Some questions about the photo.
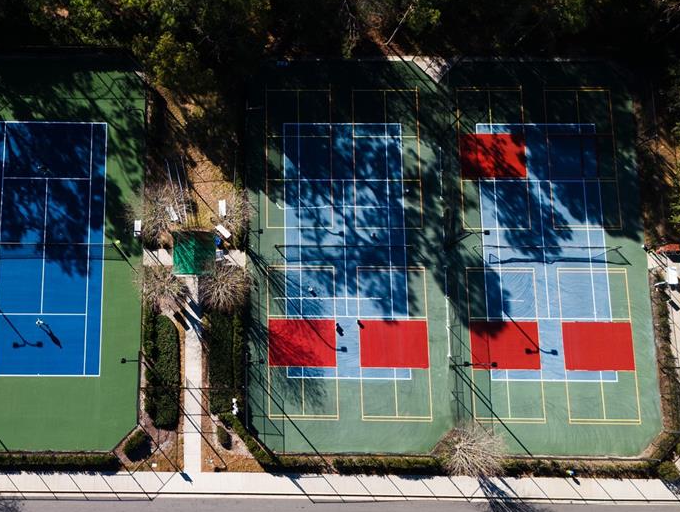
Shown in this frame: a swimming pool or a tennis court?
tennis court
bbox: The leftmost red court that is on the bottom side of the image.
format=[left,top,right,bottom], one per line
[268,263,339,422]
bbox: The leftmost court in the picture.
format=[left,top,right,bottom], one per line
[0,63,147,453]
